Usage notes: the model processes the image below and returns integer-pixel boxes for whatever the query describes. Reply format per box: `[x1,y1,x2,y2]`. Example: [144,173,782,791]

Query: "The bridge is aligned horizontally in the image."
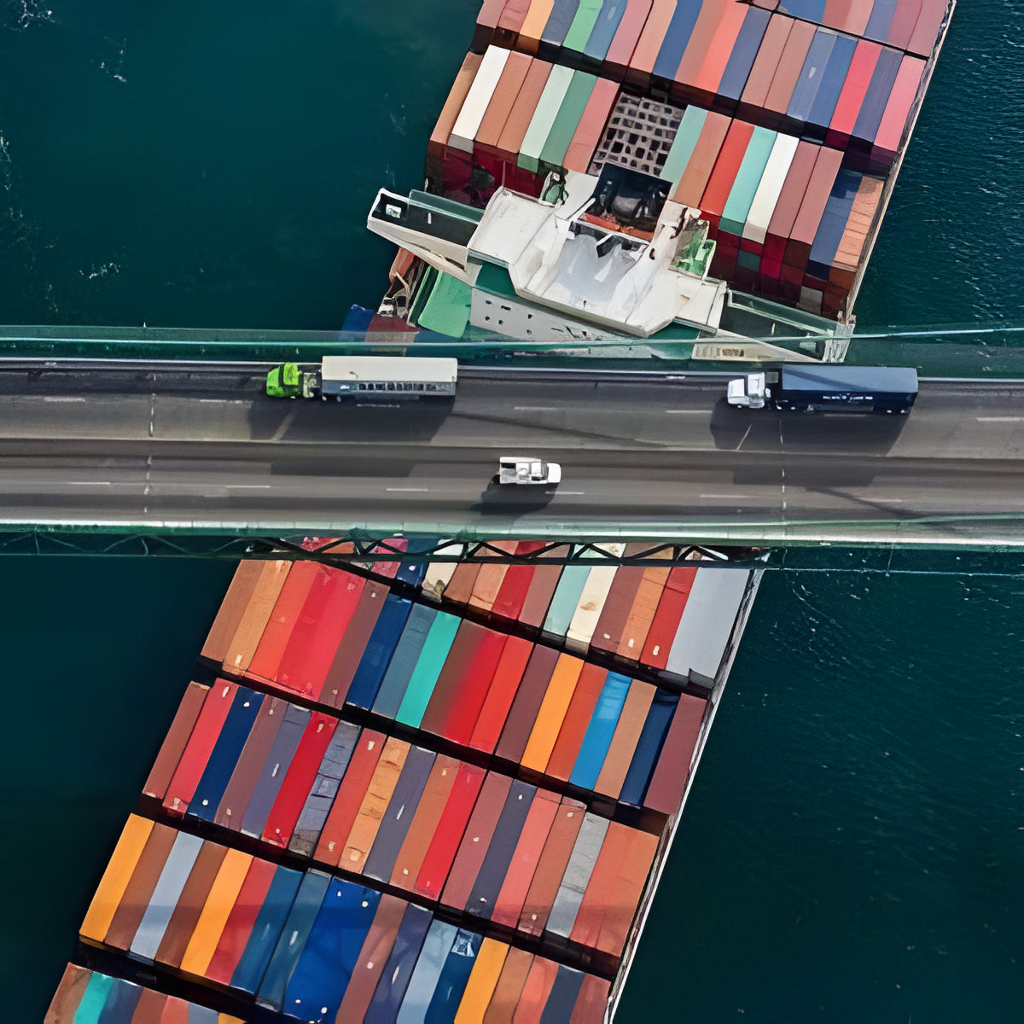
[0,326,1024,579]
